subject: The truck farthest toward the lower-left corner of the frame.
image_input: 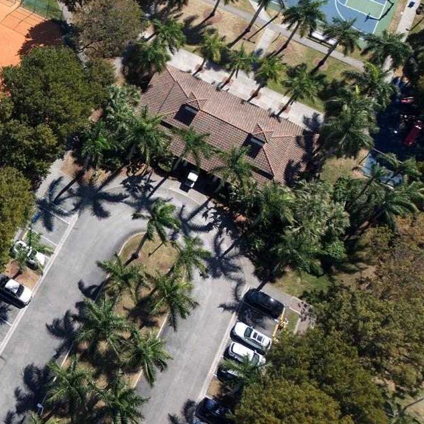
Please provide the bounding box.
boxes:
[0,273,31,305]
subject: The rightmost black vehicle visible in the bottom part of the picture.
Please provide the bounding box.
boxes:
[243,287,285,318]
